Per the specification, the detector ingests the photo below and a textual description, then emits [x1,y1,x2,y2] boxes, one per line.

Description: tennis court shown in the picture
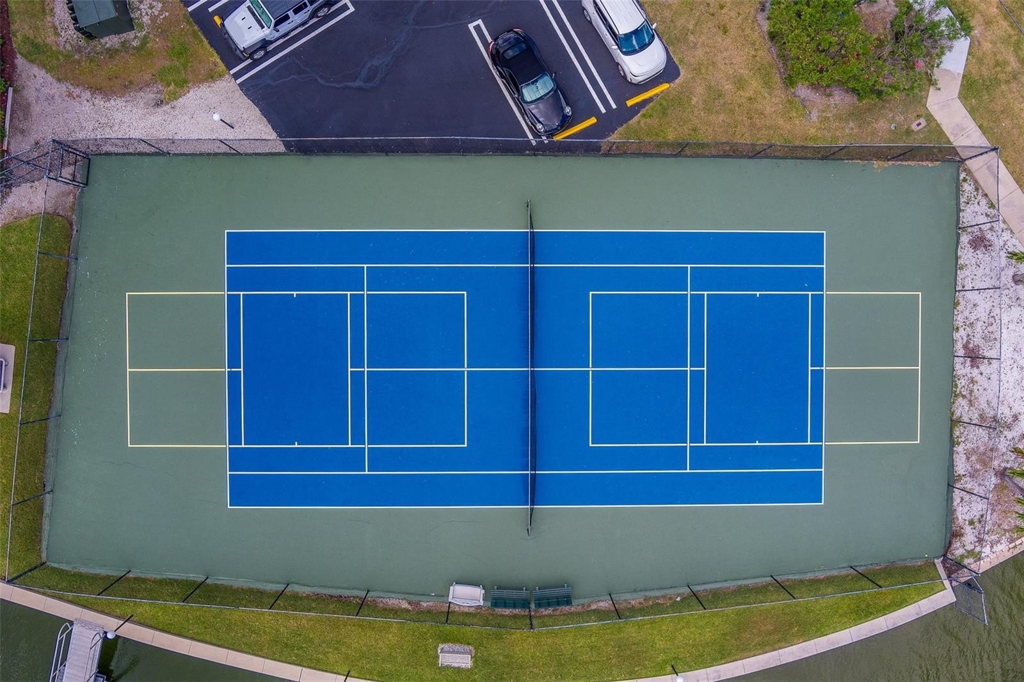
[42,151,963,610]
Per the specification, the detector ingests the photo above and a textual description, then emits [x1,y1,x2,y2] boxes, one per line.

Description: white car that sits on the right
[581,0,668,86]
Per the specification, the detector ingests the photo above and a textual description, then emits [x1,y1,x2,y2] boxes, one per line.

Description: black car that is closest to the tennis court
[487,24,572,139]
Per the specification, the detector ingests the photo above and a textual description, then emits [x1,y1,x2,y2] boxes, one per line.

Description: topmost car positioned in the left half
[218,0,336,64]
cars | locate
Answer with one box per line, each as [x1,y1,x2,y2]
[218,0,336,64]
[487,24,572,139]
[581,0,668,86]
